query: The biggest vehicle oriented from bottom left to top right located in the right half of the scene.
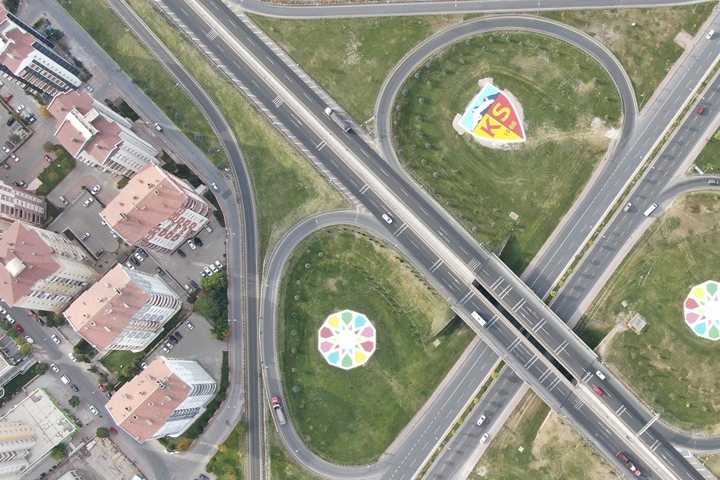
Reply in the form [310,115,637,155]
[642,201,658,219]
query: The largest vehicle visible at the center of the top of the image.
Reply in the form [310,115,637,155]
[325,107,352,133]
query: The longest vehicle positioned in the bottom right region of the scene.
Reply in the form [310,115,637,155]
[615,449,642,479]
